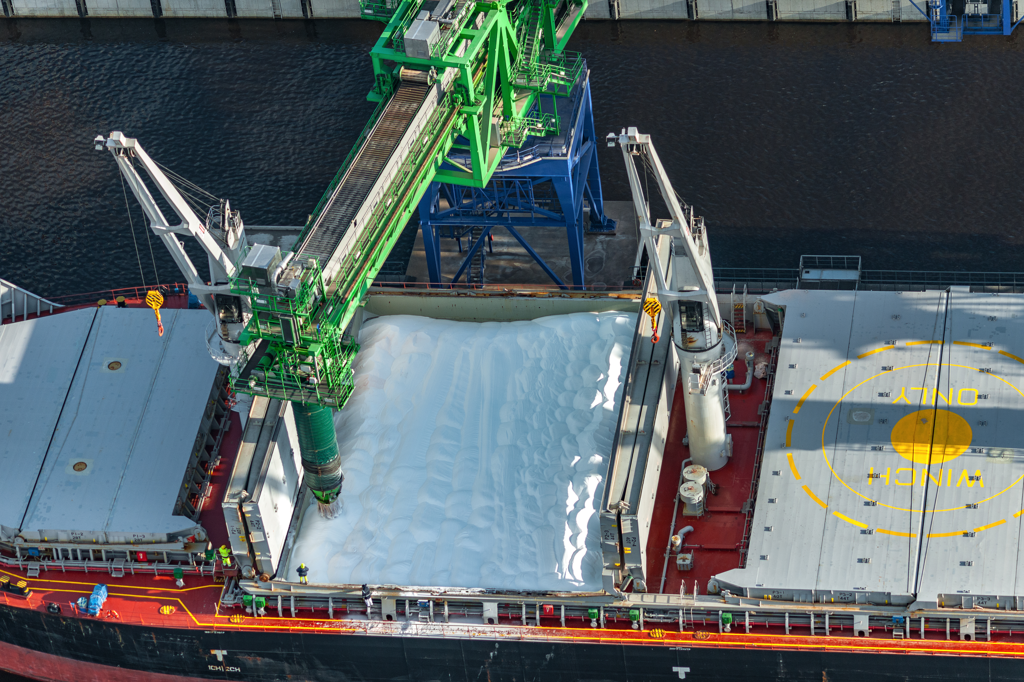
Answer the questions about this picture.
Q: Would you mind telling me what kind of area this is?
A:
port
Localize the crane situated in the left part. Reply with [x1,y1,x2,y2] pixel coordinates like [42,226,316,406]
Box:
[89,135,252,455]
